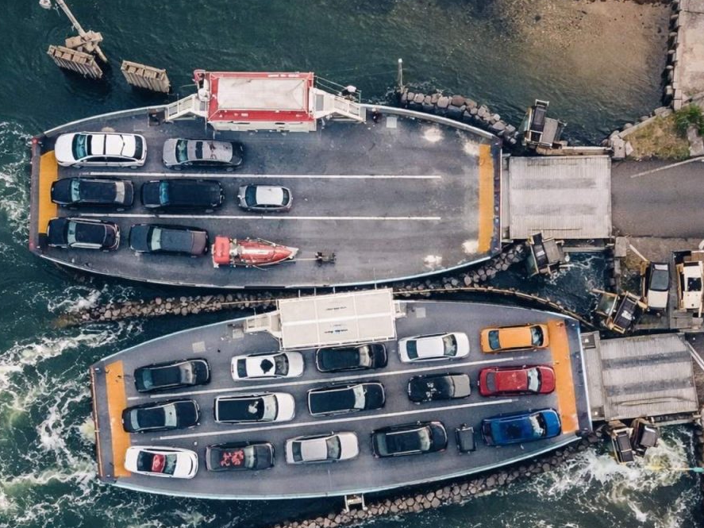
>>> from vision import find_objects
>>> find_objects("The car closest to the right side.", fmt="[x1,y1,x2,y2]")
[645,265,672,311]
